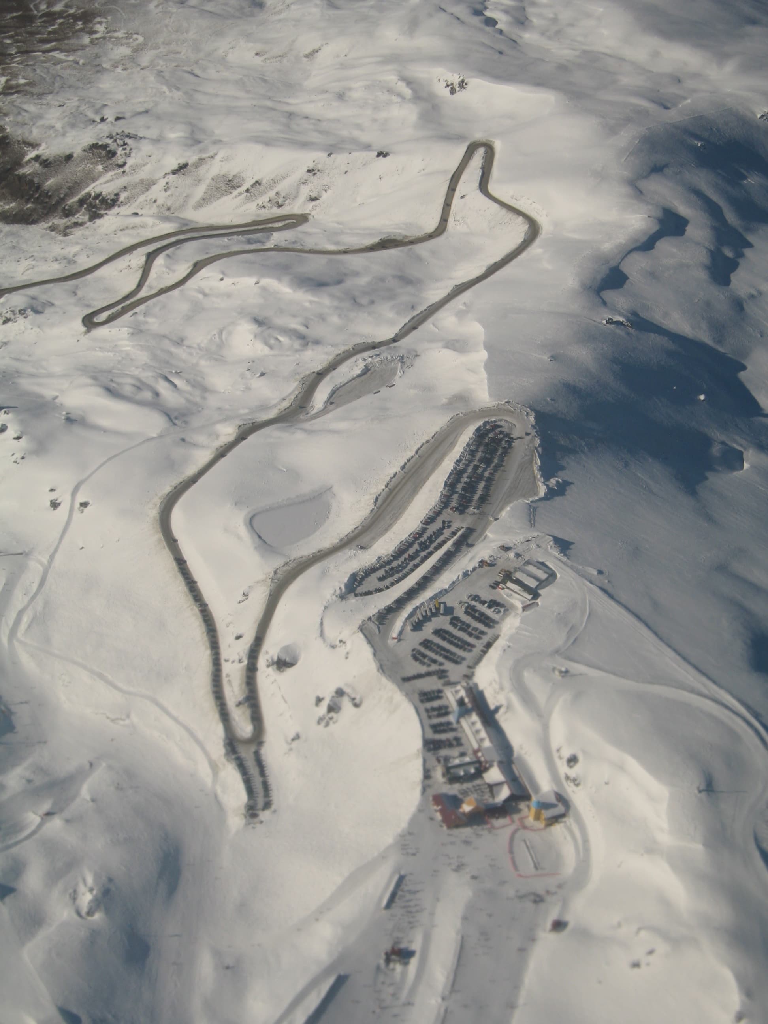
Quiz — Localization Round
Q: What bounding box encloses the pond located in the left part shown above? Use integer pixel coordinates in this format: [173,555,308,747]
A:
[250,495,330,547]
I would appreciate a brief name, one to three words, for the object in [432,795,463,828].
house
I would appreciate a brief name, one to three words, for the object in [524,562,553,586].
shed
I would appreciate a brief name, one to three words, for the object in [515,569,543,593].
shed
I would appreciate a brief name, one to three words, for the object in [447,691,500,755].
building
